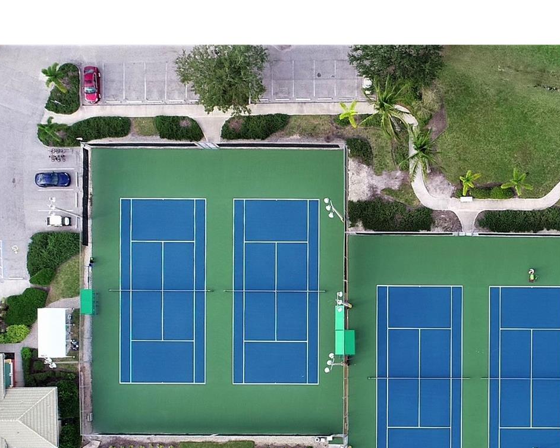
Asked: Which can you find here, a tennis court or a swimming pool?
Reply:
tennis court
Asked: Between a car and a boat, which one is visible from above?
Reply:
car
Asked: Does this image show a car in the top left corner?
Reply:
Yes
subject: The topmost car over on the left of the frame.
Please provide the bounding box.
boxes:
[82,67,102,104]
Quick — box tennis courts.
[219,148,343,435]
[475,235,560,448]
[348,235,475,448]
[91,148,219,435]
